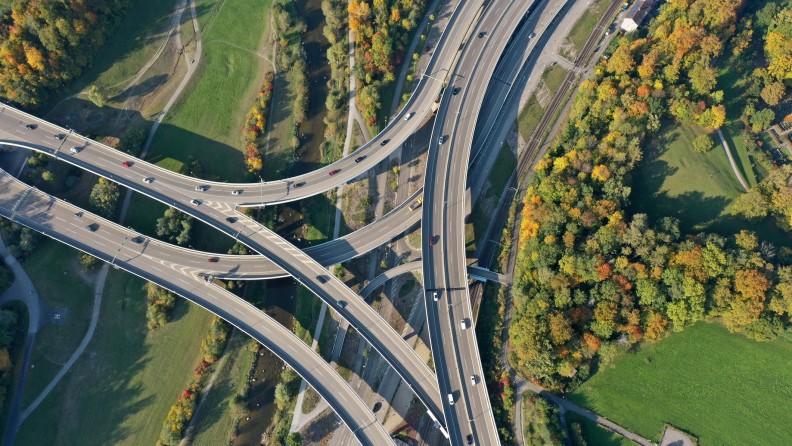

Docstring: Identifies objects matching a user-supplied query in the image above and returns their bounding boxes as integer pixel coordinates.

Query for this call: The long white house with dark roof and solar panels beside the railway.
[620,0,656,30]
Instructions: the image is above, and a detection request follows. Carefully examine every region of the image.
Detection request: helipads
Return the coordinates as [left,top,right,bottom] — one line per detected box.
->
[51,307,67,325]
